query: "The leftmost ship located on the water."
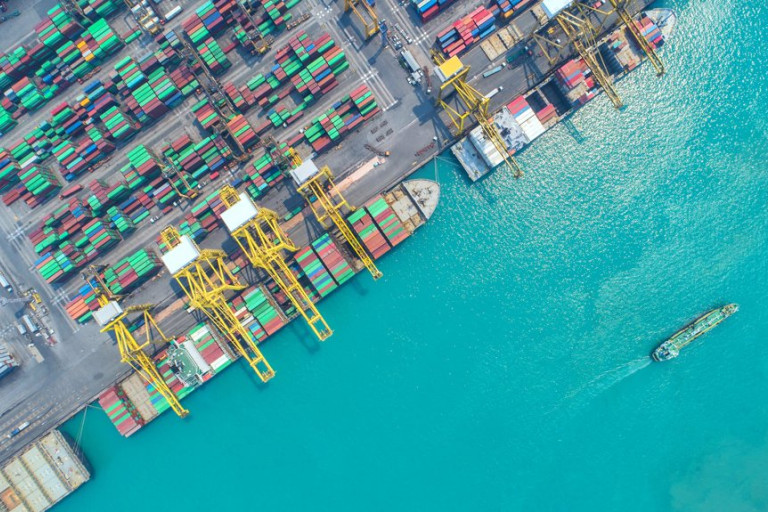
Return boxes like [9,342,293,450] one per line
[0,423,100,512]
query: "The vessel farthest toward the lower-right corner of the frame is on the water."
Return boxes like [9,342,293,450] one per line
[646,301,738,362]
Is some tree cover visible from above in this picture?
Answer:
No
